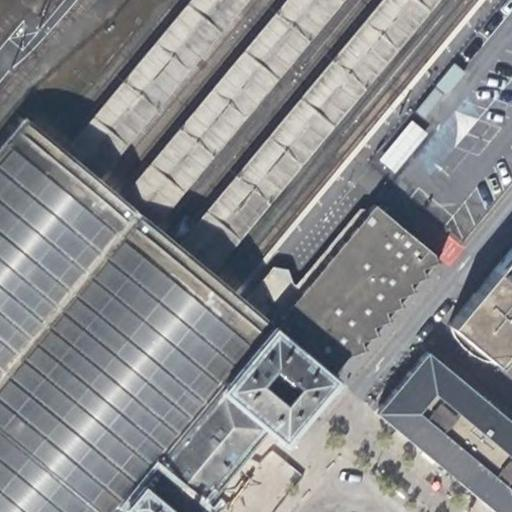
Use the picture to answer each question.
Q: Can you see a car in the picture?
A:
Yes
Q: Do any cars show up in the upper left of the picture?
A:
No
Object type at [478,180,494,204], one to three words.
car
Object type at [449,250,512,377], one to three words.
building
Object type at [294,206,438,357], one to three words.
building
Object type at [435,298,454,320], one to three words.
car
